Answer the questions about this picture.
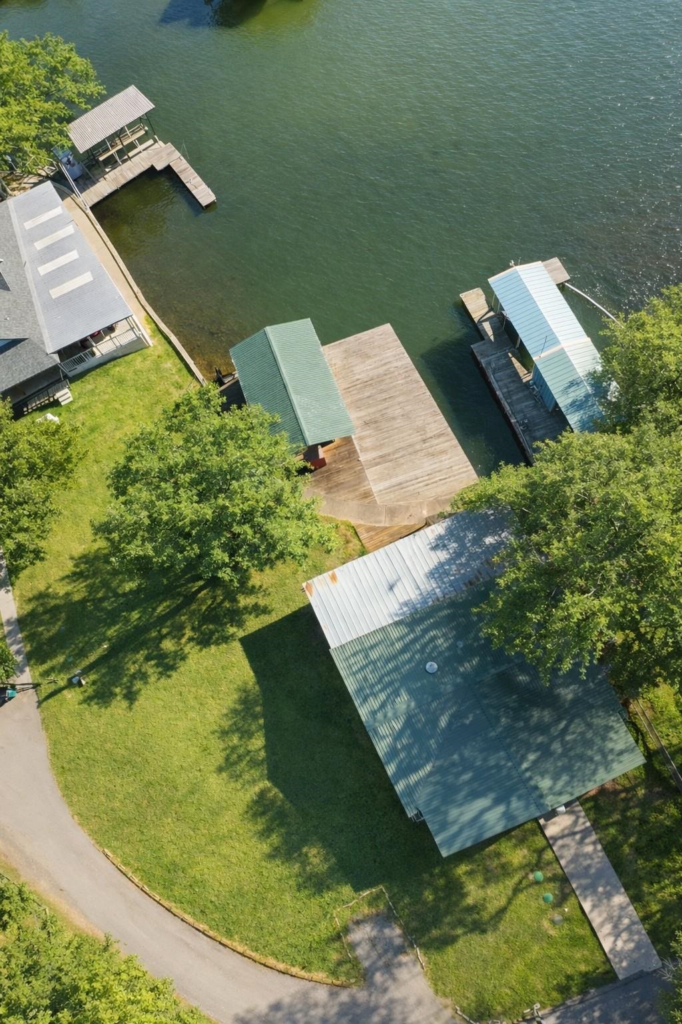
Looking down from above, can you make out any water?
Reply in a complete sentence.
Yes, some water is visible.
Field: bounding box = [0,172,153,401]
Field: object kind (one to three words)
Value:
house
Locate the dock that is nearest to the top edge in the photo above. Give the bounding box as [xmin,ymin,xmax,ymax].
[76,142,217,217]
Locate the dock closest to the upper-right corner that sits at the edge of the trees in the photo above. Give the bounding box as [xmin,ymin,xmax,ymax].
[459,287,574,458]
